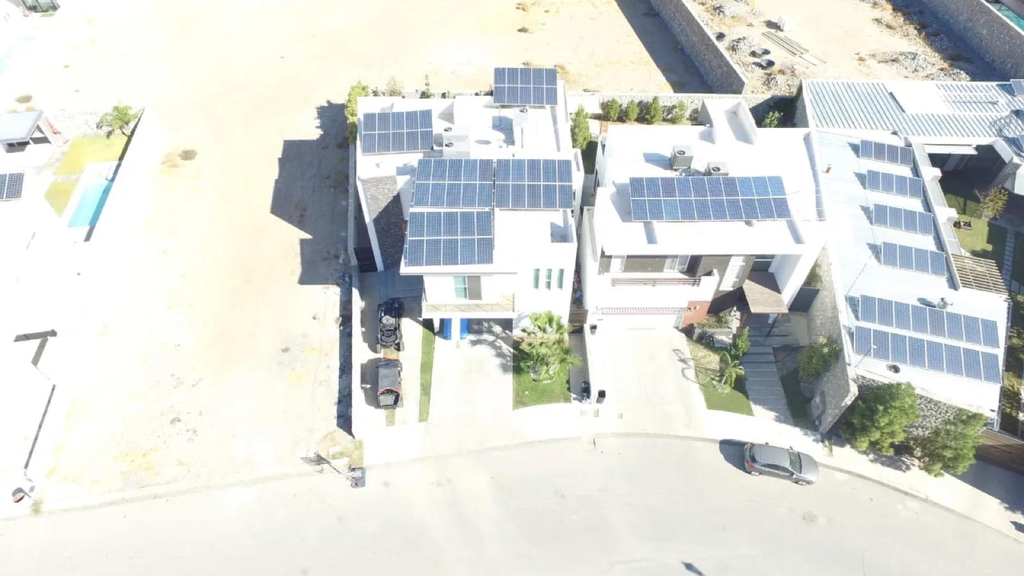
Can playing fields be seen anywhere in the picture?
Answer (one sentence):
No, there appears to be no playing field in this shot.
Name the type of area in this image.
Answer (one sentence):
The area seen from above is a residential area.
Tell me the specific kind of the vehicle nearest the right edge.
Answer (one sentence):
The vehicle nearest the right edge is an automobile.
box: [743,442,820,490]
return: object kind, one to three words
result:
car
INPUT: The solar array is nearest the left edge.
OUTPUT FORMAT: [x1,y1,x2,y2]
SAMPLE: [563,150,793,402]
[0,173,27,200]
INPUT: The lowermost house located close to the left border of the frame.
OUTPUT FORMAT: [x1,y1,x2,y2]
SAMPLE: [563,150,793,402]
[0,165,77,346]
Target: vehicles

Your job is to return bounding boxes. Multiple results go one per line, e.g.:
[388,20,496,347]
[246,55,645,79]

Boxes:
[371,358,406,413]
[371,300,405,351]
[743,442,820,490]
